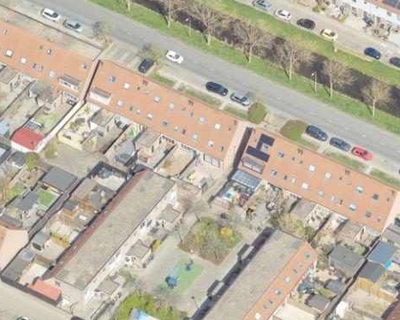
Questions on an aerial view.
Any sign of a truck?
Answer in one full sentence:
No, the picture doesn't show any truck.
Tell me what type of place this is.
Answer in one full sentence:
It's a residential area.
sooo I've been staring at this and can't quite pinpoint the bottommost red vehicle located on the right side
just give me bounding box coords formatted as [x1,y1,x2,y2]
[351,148,372,161]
